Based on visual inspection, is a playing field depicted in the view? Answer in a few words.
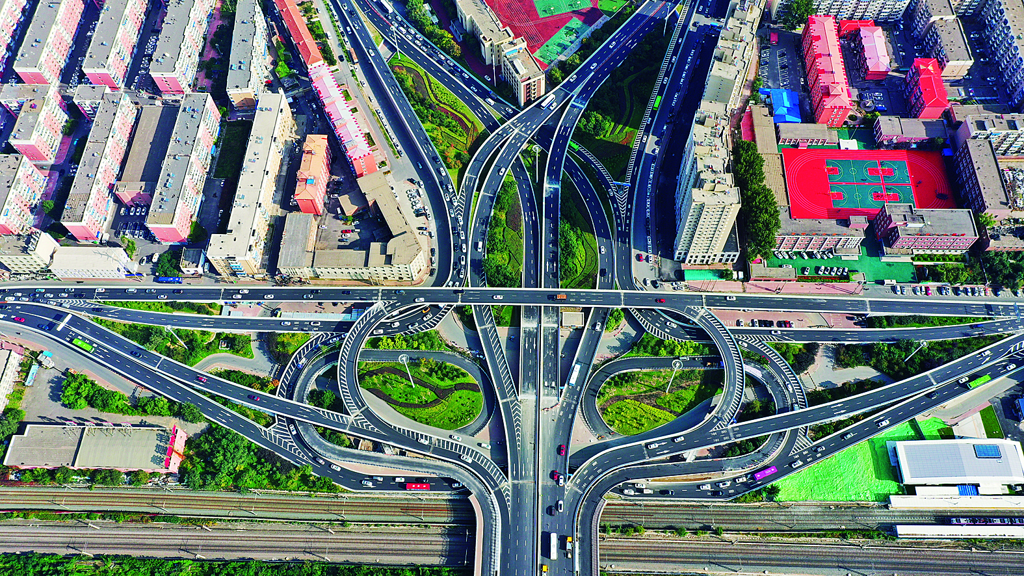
Yes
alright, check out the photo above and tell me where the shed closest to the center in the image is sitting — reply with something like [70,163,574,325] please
[561,312,584,330]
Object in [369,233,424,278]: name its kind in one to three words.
building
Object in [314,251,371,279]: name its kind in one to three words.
building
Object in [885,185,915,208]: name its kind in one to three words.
basketball court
